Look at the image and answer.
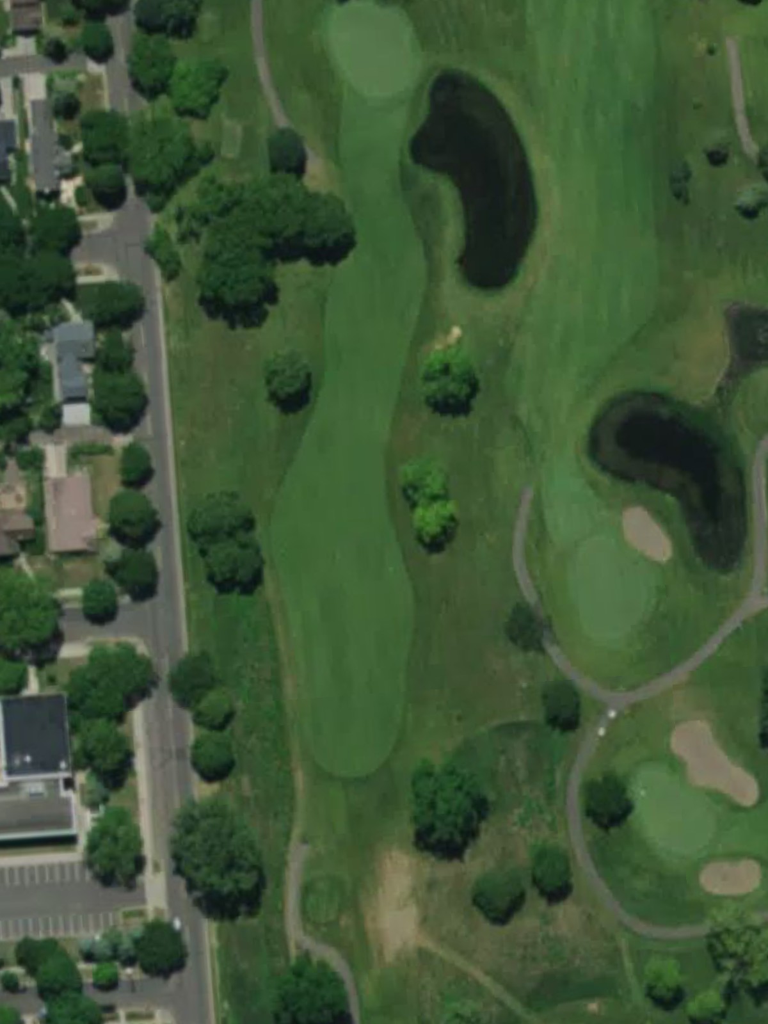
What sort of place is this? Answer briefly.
golf course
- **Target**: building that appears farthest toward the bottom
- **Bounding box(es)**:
[0,696,76,838]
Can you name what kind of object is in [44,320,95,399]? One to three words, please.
house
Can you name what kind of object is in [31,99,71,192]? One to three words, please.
house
